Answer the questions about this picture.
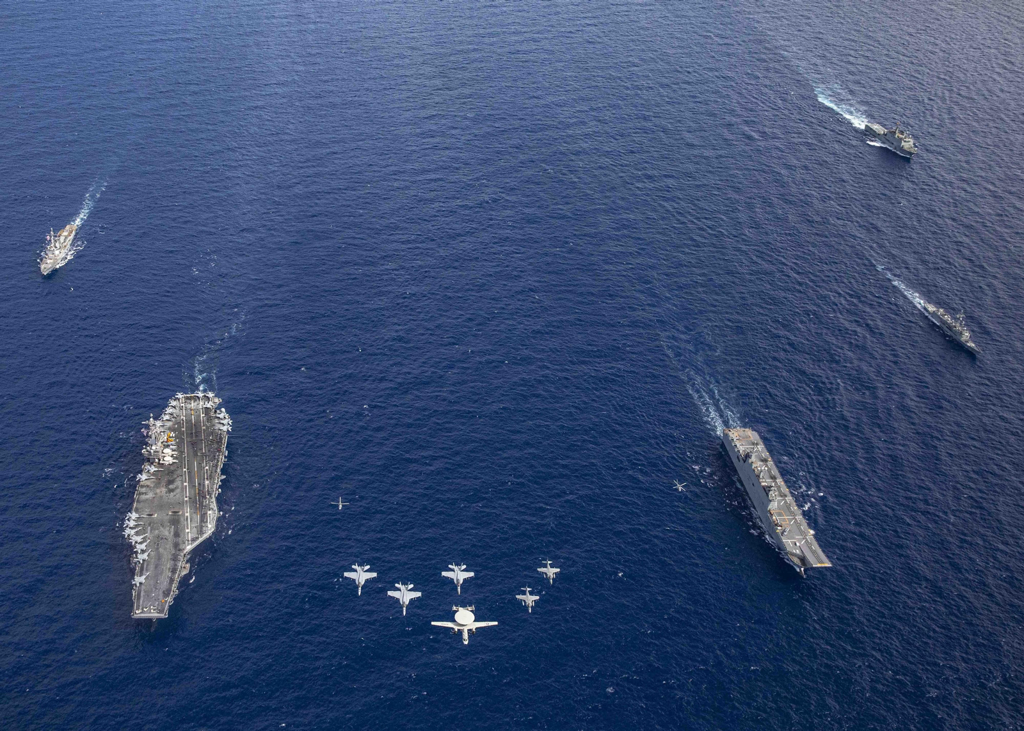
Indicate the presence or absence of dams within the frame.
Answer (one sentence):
No, no dam is visible in the scene.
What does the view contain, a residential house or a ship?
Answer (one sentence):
The image shows a ship.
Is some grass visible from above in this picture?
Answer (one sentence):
No, no grass is visible.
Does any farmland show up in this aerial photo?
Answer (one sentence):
No, the picture contains no farmland.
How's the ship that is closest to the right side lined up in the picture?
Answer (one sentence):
What the image shows is the ship that is closest to the right side lying diagonally.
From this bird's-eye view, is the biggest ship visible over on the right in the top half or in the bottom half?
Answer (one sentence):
The biggest ship visible over on the right sits in the bottom half of the picture.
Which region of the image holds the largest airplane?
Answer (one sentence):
The largest airplane appears toward the bottom of the photo.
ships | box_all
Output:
[42,226,81,277]
[130,395,240,623]
[923,304,983,355]
[865,123,918,157]
[724,428,832,579]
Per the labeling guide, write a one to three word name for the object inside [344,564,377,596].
airplane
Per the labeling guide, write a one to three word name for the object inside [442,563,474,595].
airplane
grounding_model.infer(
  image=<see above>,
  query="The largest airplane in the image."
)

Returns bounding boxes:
[431,605,498,645]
